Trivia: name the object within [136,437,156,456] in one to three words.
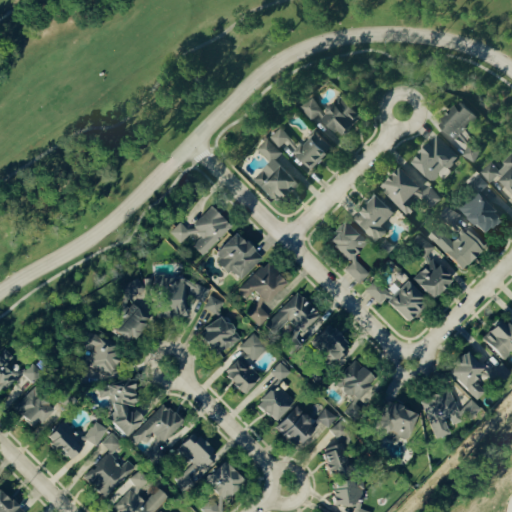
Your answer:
swimming pool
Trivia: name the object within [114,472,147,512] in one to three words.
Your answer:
house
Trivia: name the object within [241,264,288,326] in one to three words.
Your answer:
house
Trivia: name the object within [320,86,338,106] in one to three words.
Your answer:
swimming pool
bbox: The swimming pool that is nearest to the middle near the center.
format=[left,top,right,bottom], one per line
[204,255,226,286]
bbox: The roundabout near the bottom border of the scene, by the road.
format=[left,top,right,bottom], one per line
[262,455,315,512]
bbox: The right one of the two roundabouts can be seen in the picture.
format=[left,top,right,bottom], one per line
[384,86,426,146]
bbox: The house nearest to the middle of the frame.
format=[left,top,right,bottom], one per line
[216,233,261,282]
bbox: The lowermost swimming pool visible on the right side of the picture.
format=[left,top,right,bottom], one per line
[381,440,413,462]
